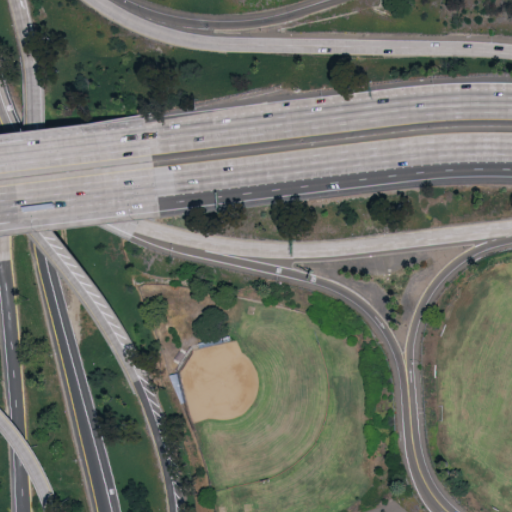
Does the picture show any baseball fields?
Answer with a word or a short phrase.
Yes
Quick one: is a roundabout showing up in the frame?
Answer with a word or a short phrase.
No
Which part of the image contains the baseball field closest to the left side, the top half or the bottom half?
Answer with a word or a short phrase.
bottom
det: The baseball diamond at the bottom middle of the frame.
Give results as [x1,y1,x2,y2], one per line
[178,302,328,490]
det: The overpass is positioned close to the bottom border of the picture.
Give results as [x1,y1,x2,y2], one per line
[0,408,54,505]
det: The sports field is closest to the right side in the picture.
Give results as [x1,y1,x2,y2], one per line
[443,270,512,512]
